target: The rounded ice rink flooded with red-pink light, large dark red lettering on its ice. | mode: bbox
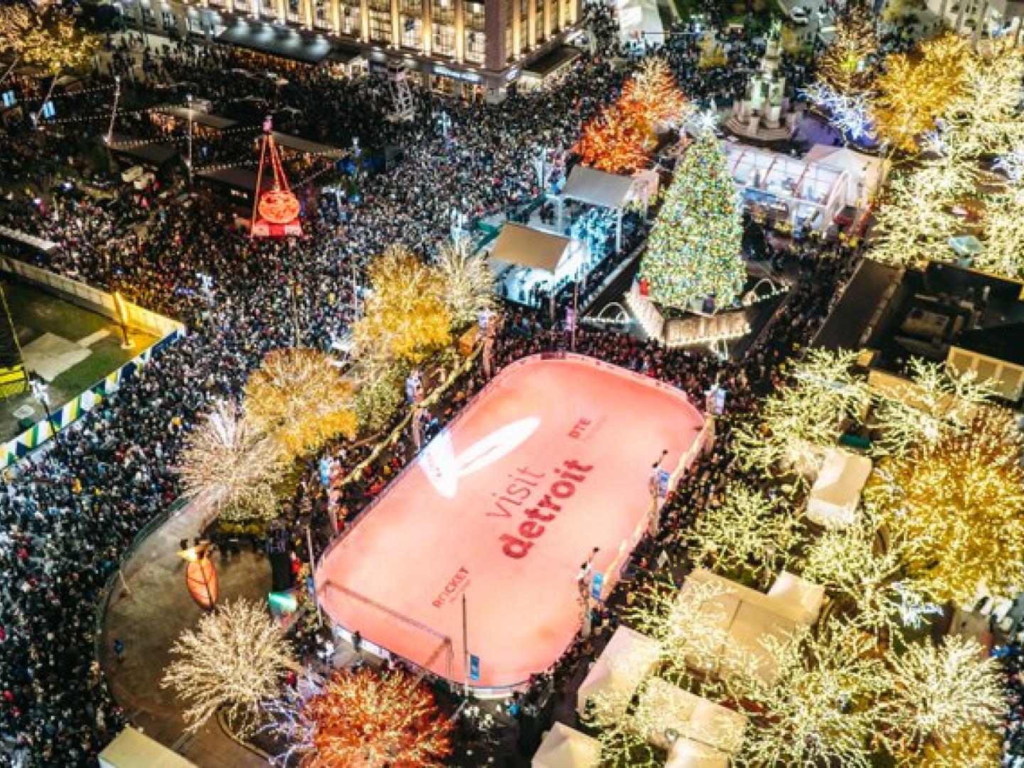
[309,344,712,694]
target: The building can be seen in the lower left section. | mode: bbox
[97,726,196,768]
